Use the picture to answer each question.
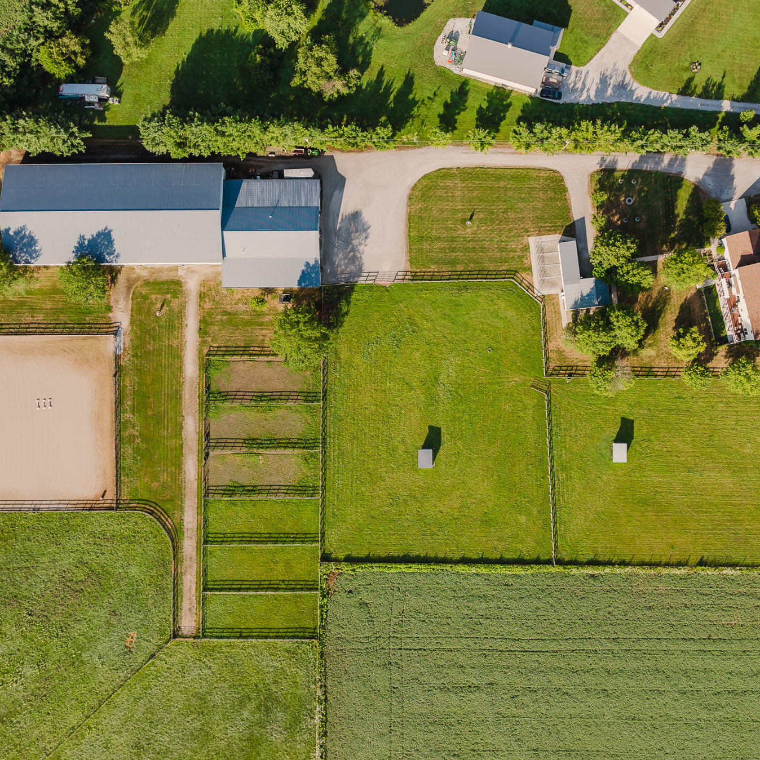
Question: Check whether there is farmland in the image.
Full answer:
Yes, there is farmland in the image.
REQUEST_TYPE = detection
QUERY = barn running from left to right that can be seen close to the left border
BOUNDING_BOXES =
[0,162,227,266]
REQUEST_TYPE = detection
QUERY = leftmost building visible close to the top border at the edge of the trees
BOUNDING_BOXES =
[461,11,565,96]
